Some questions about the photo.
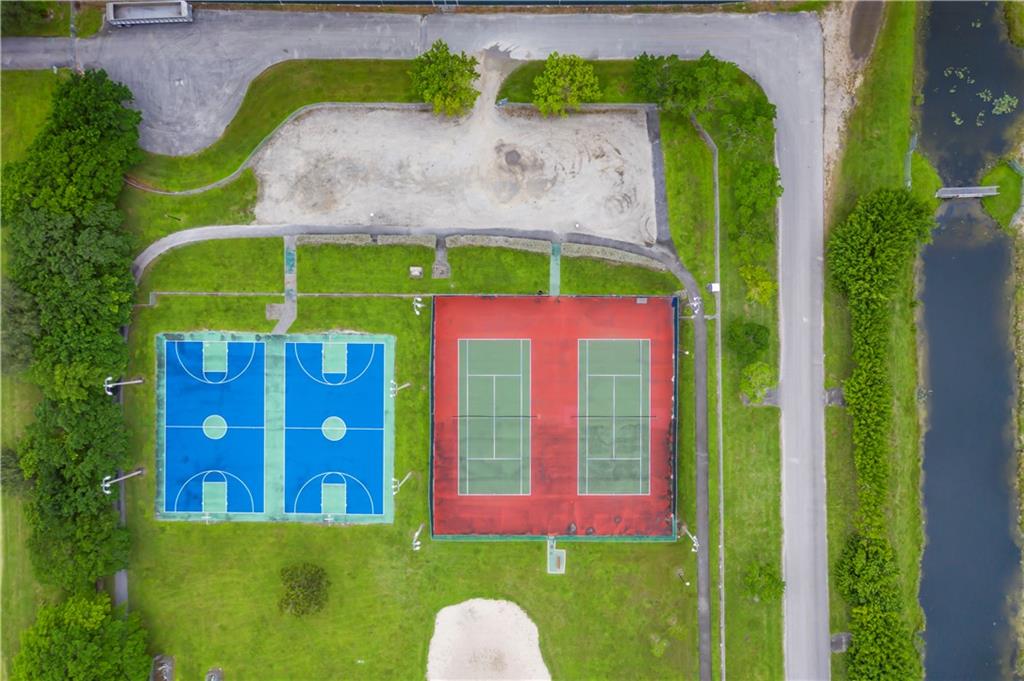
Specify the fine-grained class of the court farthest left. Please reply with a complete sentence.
I'd say the court farthest left is a basketball court.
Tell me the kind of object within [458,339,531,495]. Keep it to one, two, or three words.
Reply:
tennis court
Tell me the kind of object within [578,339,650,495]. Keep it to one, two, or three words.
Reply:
tennis court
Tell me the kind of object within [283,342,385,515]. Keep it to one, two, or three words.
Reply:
basketball court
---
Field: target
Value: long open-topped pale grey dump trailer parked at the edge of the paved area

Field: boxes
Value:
[105,0,197,29]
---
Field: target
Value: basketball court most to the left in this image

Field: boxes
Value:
[164,341,266,513]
